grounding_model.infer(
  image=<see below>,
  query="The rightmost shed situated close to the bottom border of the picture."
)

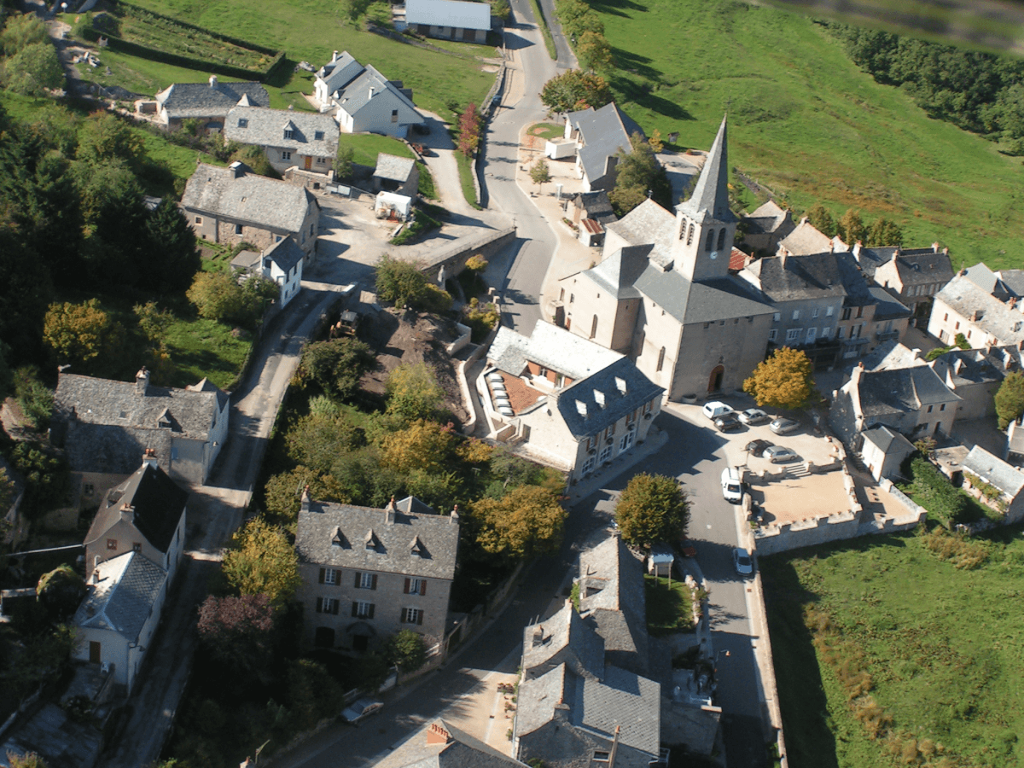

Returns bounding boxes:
[658,698,719,768]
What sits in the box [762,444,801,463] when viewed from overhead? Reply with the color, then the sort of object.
gray car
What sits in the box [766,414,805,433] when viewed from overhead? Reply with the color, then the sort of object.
gray car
